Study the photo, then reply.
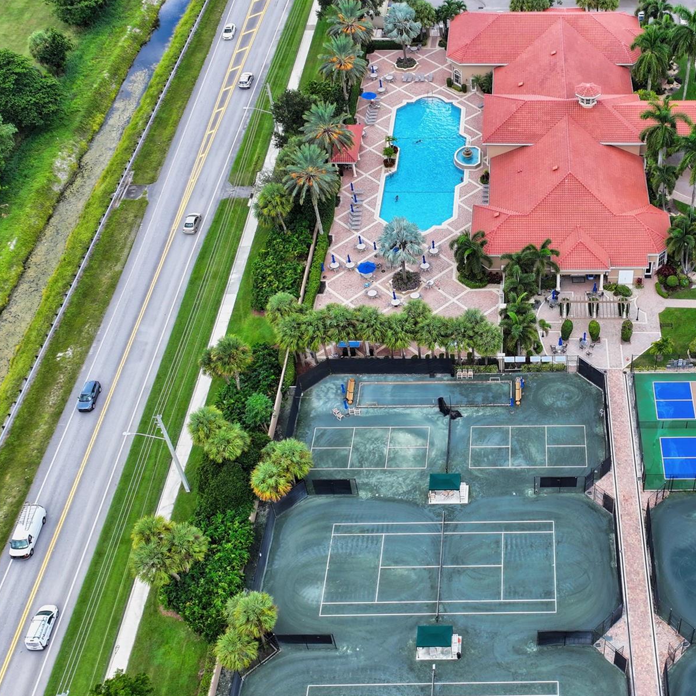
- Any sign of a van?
Yes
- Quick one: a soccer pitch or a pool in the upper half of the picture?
pool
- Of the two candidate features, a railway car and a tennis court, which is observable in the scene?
tennis court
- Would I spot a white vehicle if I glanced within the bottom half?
Yes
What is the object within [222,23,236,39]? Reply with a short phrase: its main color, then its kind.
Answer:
white car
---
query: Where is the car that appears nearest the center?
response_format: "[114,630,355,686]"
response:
[182,211,202,234]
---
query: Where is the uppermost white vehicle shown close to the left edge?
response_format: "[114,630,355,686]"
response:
[11,498,47,553]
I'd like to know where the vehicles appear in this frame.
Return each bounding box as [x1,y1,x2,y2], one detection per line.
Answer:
[77,378,103,411]
[238,72,255,88]
[11,498,47,553]
[182,211,202,234]
[23,603,60,649]
[222,23,236,39]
